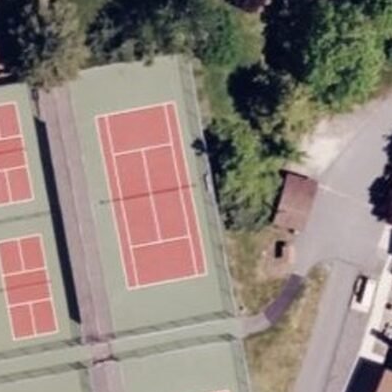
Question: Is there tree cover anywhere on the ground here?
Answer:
Yes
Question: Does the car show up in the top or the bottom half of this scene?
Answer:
bottom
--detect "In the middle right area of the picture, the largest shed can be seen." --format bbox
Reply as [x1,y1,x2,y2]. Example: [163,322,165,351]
[274,174,318,228]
